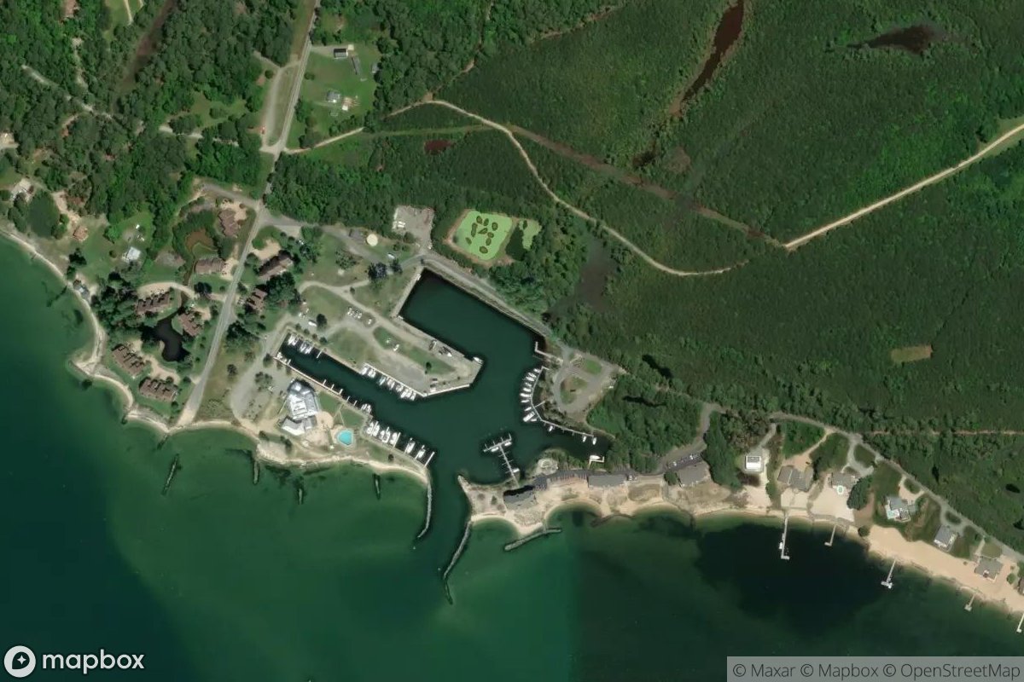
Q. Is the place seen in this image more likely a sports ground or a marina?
marina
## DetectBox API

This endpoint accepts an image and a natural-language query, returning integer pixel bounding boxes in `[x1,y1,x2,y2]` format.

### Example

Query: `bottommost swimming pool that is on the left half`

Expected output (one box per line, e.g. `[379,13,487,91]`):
[336,428,354,446]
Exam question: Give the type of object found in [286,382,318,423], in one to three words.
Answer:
building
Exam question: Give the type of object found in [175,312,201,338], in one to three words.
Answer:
house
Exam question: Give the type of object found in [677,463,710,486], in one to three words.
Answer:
building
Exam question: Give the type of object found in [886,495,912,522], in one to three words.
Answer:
house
